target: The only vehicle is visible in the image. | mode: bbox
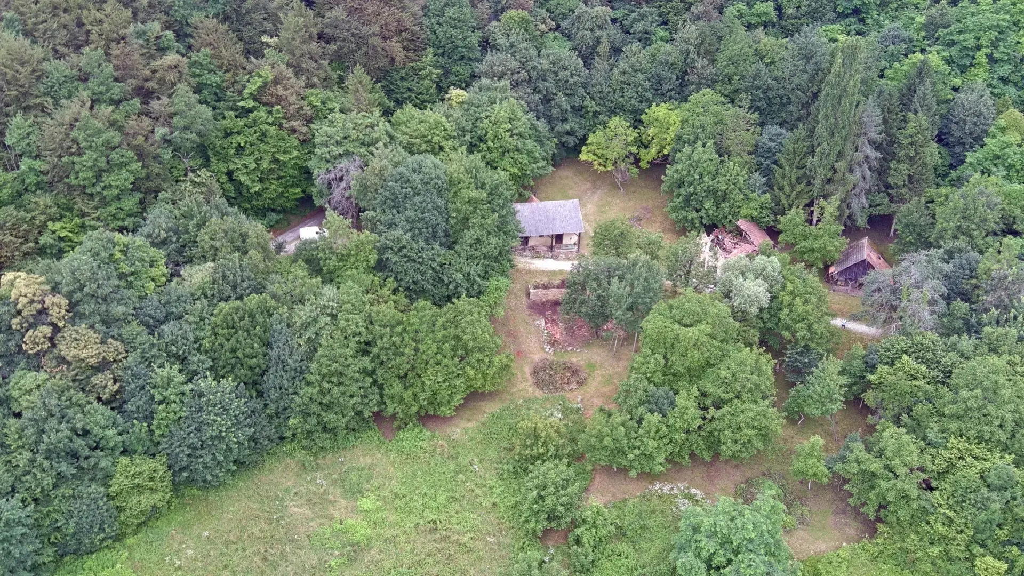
[295,225,328,244]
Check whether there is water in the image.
No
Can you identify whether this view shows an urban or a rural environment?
rural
